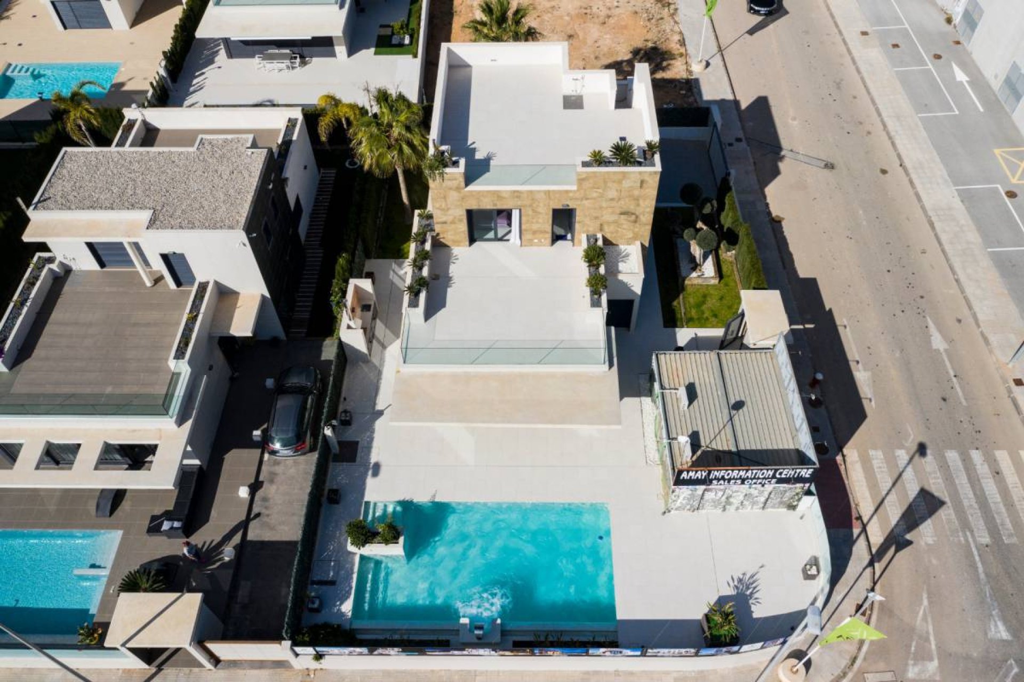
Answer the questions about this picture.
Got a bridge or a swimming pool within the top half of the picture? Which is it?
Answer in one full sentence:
What appears within the top half of the picture is a swimming pool.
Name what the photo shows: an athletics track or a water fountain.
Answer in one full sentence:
It is a water fountain that can be seen here.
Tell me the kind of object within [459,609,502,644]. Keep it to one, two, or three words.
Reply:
fountain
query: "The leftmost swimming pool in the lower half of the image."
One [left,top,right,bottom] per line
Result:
[0,527,128,647]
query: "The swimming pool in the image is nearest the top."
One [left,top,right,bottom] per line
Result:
[0,61,122,106]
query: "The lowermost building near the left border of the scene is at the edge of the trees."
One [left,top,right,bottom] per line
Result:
[0,108,321,493]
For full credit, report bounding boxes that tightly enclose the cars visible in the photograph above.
[748,0,781,15]
[267,357,333,459]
